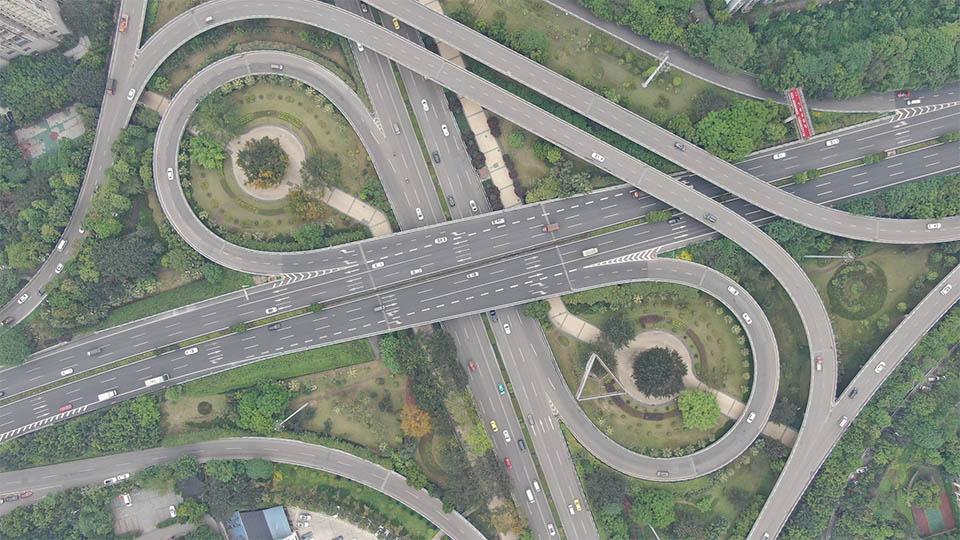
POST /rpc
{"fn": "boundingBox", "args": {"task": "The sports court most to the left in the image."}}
[14,110,85,157]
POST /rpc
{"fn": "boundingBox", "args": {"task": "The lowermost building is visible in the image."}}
[225,502,310,540]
